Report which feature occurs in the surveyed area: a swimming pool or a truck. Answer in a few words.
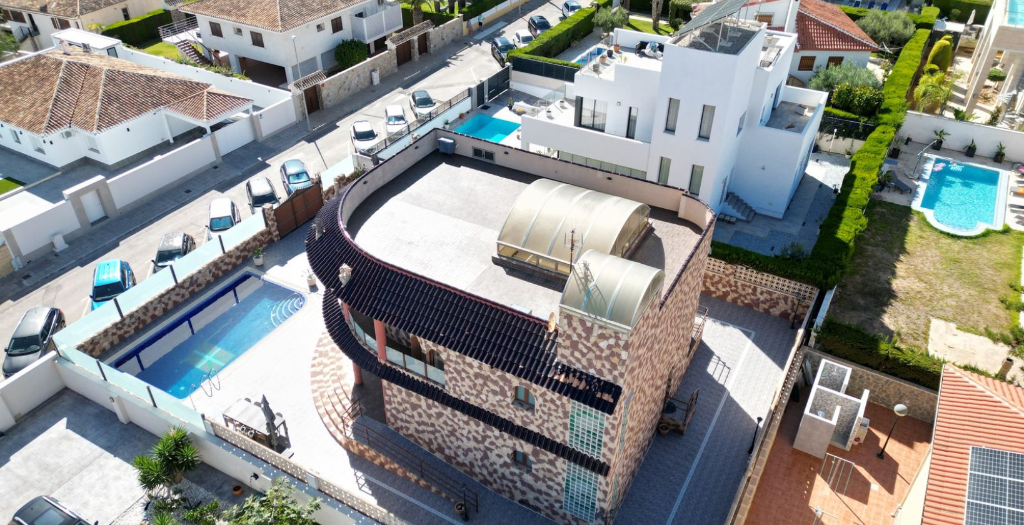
swimming pool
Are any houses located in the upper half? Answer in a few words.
Yes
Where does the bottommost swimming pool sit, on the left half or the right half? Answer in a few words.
left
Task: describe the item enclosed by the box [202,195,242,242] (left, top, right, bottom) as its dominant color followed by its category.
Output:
white car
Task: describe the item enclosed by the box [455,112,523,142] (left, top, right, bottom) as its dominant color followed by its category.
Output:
blue swimming pool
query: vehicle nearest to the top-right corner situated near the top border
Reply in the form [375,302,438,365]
[557,1,582,21]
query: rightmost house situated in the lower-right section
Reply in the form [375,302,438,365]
[918,357,1024,525]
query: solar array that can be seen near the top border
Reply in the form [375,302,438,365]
[671,0,752,48]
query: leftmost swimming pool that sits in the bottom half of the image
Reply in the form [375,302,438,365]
[99,261,327,407]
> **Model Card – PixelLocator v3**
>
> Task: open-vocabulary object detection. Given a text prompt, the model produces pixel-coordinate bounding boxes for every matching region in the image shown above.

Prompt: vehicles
[1,307,67,375]
[153,233,195,272]
[385,107,414,141]
[353,125,385,154]
[90,251,137,314]
[510,33,532,51]
[412,92,441,125]
[247,178,282,215]
[524,17,551,39]
[283,160,317,192]
[488,43,512,69]
[557,1,582,21]
[202,195,242,242]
